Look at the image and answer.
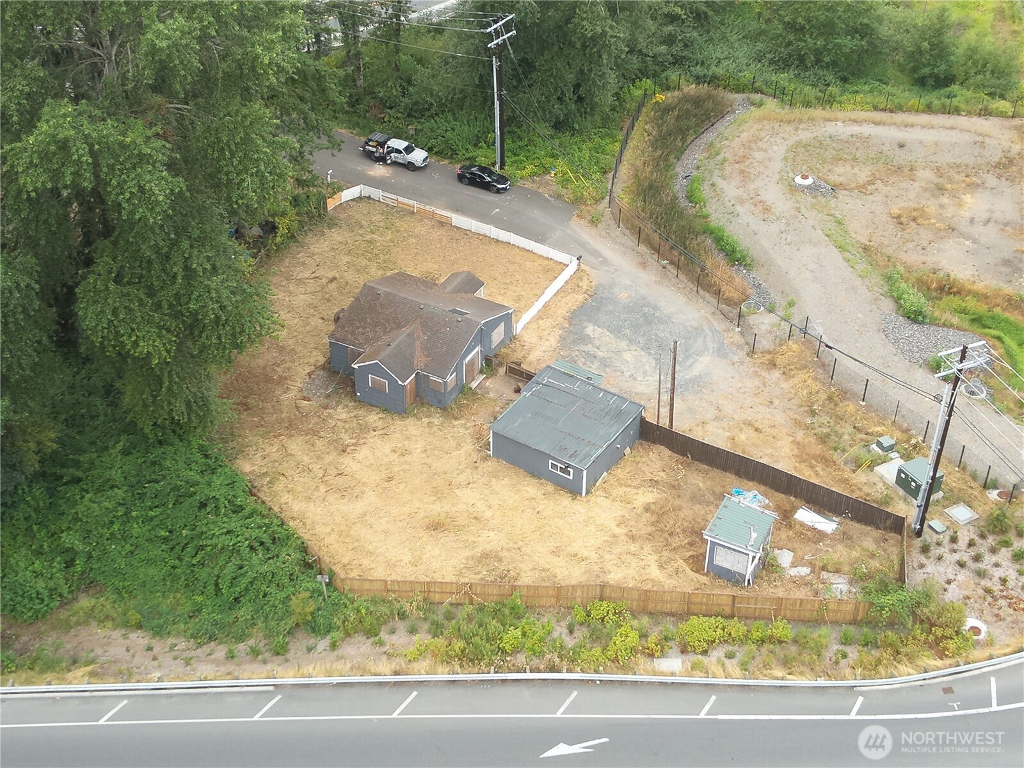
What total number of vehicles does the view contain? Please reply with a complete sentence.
In total, 2 vehicles can be seen.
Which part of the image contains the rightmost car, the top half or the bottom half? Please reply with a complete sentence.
The top half of the photo is where the rightmost car is.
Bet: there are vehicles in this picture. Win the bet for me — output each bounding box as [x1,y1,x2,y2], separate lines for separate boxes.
[456,163,515,193]
[359,136,435,171]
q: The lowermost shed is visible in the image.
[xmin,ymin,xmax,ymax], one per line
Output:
[699,498,788,587]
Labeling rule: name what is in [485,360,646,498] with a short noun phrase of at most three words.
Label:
building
